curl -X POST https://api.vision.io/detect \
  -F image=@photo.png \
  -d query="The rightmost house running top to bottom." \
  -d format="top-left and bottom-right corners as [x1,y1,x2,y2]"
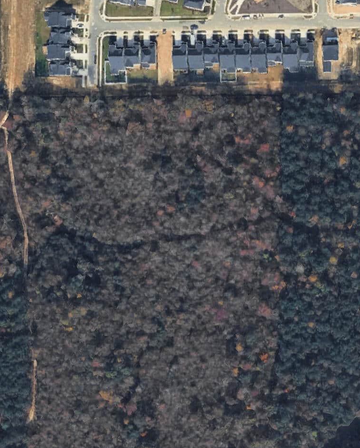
[322,36,339,73]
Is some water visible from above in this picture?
No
